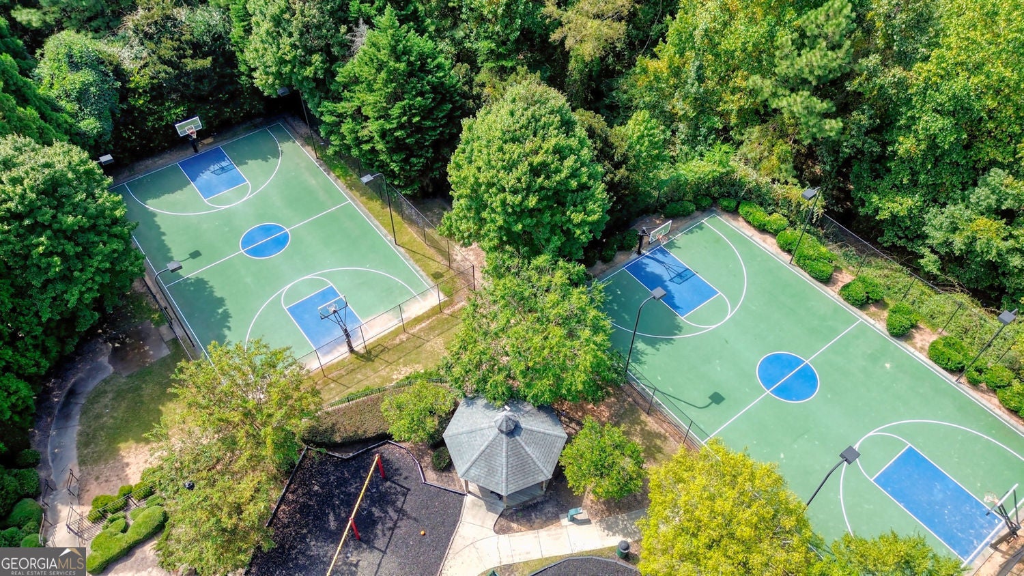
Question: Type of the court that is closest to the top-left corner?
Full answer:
It turns out the court that is closest to the top-left corner is a basketball court.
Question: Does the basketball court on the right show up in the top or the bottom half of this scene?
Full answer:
It is in the bottom half that the basketball court on the right appears.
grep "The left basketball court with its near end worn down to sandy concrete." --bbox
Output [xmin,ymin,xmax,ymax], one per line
[123,116,452,415]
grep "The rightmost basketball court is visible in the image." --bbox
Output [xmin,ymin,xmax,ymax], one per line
[552,206,1024,576]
